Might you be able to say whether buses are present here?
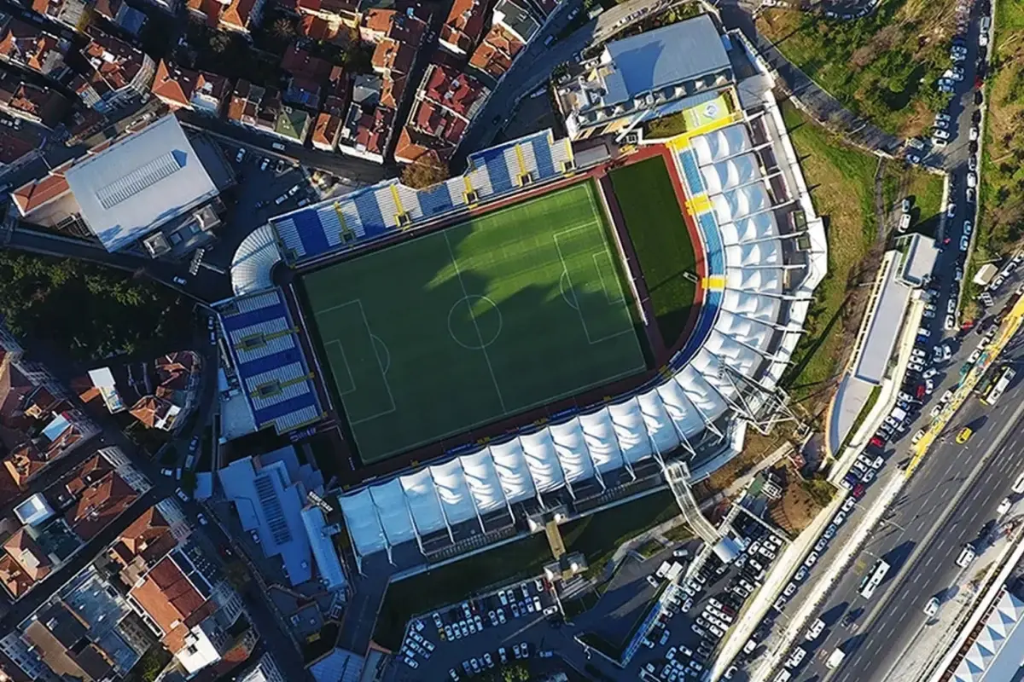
Yes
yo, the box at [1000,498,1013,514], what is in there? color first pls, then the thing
white vehicle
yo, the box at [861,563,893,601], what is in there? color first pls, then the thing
white bus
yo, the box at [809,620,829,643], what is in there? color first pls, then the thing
white vehicle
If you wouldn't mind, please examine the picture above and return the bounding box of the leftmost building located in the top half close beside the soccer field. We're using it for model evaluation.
[65,113,238,264]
